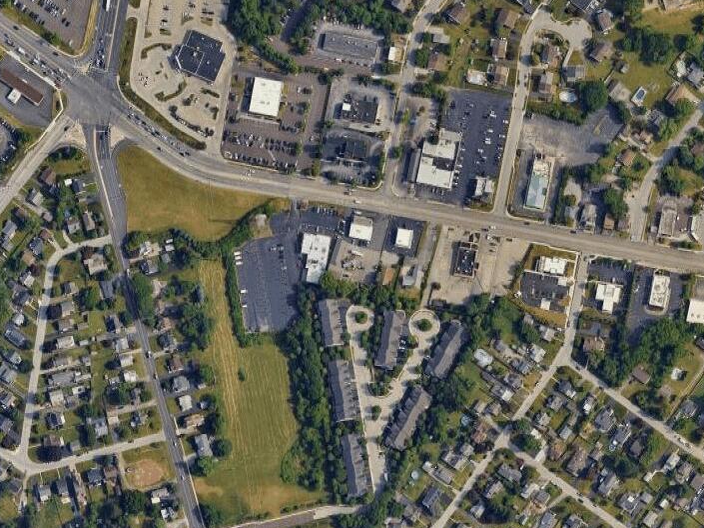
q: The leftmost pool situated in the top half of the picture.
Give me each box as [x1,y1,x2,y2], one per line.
[559,88,577,104]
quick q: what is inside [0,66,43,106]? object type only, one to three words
building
